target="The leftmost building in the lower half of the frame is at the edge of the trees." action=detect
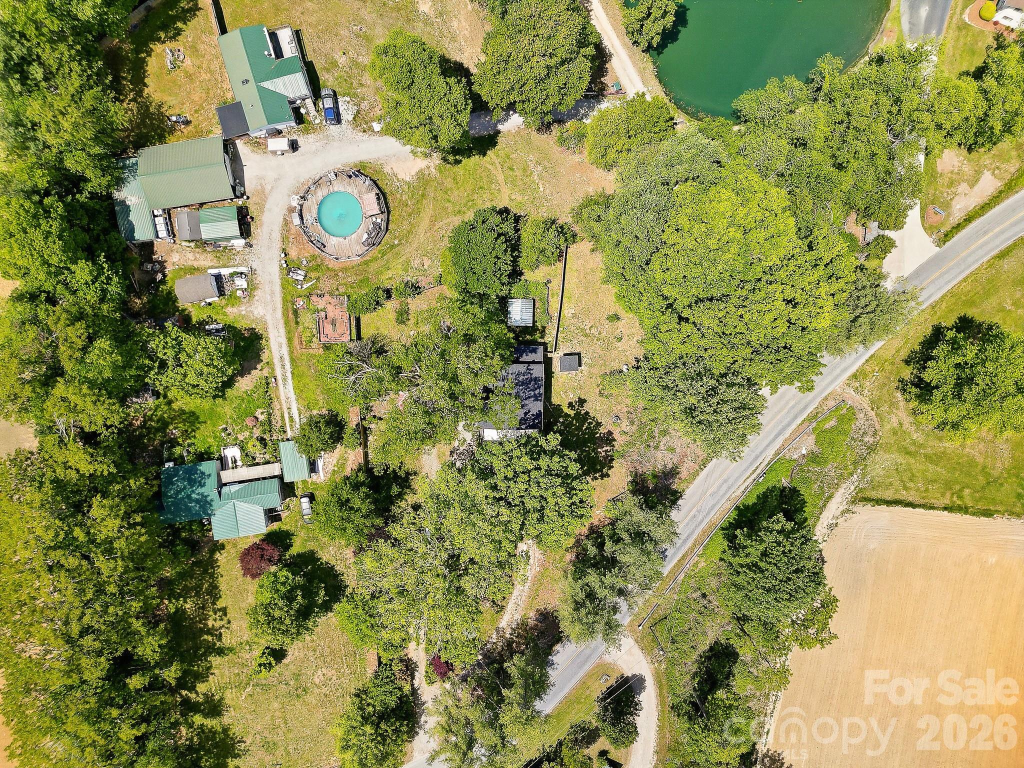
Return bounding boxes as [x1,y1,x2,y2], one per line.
[162,460,288,540]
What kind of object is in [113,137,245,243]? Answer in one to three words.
barn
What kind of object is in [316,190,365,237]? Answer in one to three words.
swimming pool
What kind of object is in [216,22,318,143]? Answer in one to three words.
house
